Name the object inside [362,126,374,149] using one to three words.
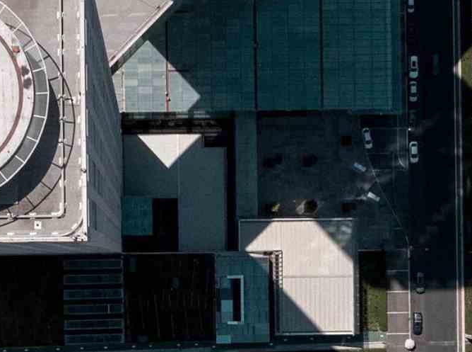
vehicle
